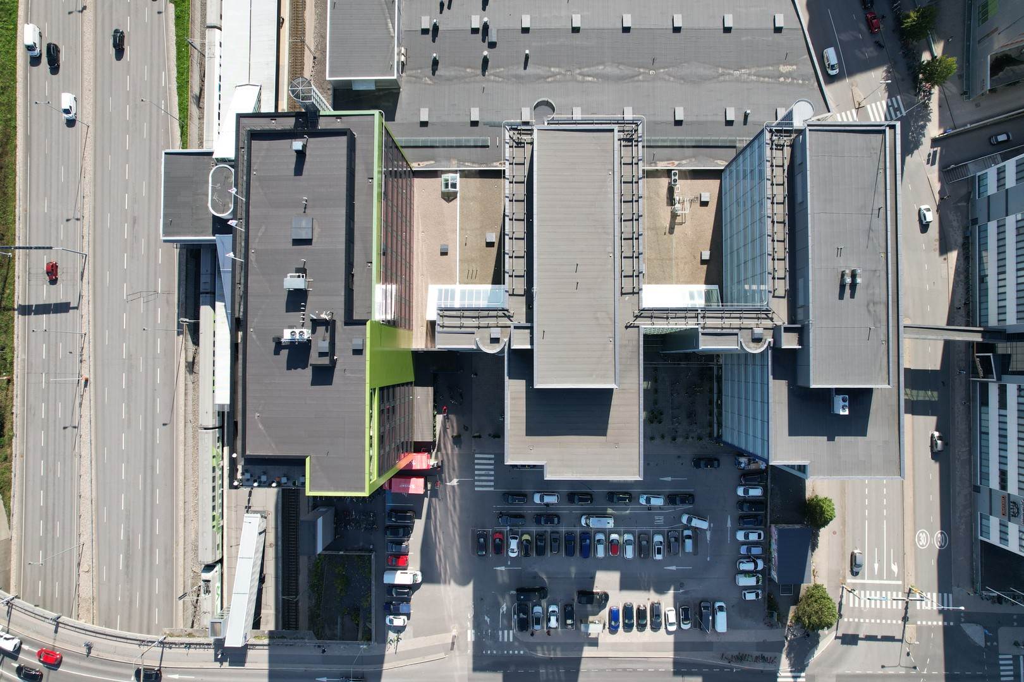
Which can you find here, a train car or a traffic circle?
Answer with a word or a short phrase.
train car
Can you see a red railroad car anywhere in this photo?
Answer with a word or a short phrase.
No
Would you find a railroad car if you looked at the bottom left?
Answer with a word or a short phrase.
Yes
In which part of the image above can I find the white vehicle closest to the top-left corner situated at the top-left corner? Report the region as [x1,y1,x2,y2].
[25,26,41,54]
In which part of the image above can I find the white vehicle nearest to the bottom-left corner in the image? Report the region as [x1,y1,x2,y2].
[0,631,22,653]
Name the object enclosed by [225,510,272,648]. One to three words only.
building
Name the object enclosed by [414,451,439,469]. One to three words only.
vehicle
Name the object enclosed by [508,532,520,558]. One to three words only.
vehicle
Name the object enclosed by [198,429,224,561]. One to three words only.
rail car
